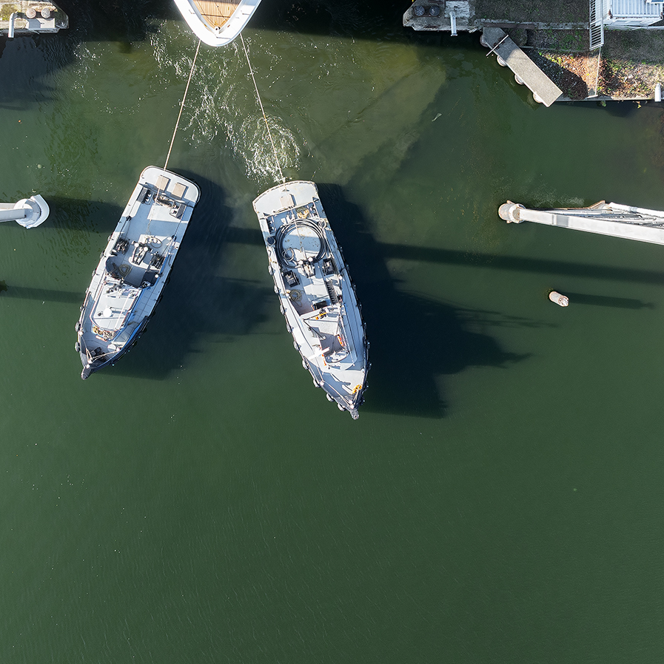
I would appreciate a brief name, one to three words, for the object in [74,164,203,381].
boat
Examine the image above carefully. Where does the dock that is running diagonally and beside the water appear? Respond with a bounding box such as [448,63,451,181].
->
[477,29,562,107]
